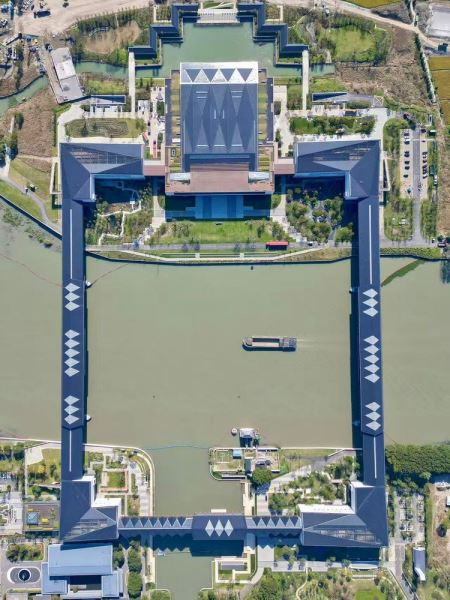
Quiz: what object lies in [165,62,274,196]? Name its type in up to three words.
building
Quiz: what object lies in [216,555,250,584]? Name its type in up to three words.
building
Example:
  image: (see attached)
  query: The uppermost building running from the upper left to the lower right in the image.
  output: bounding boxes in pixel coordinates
[237,3,309,56]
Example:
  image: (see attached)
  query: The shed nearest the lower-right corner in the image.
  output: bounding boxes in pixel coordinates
[412,546,425,581]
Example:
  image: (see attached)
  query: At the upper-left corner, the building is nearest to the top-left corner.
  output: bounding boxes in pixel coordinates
[51,46,86,106]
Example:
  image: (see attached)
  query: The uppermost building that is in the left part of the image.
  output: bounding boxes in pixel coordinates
[128,3,200,59]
